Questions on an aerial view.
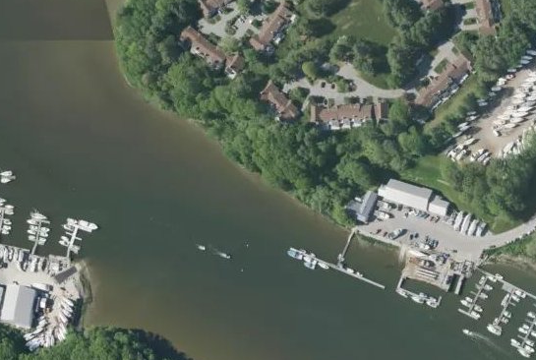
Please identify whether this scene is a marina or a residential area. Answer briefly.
marina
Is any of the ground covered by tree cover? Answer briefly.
Yes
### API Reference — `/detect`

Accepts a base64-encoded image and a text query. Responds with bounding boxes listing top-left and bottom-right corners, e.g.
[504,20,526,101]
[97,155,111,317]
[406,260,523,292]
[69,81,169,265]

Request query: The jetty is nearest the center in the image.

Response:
[290,230,386,288]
